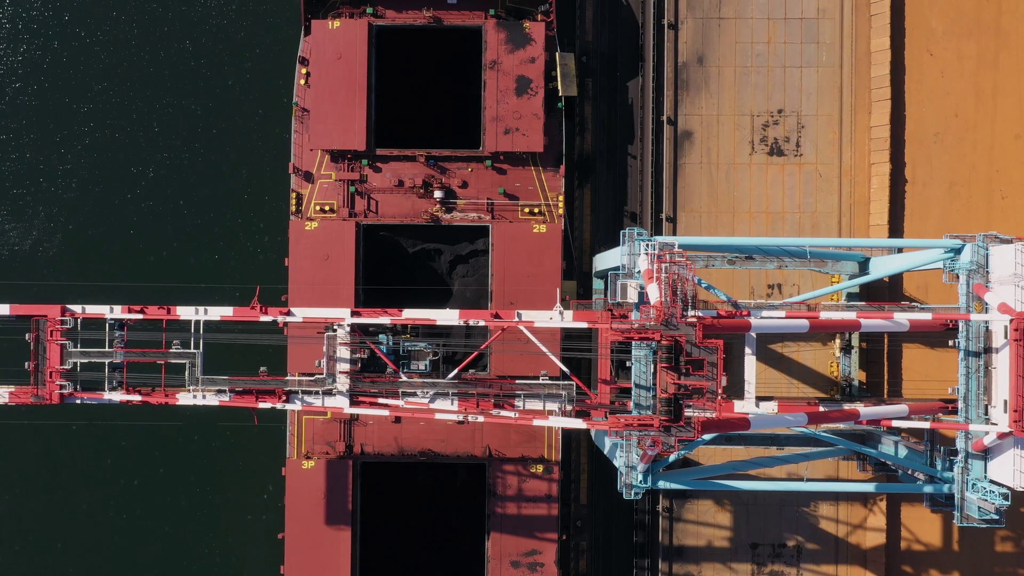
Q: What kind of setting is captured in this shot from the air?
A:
port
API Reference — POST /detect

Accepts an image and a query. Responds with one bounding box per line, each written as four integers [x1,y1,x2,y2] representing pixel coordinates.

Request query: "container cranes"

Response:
[0,226,1024,526]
